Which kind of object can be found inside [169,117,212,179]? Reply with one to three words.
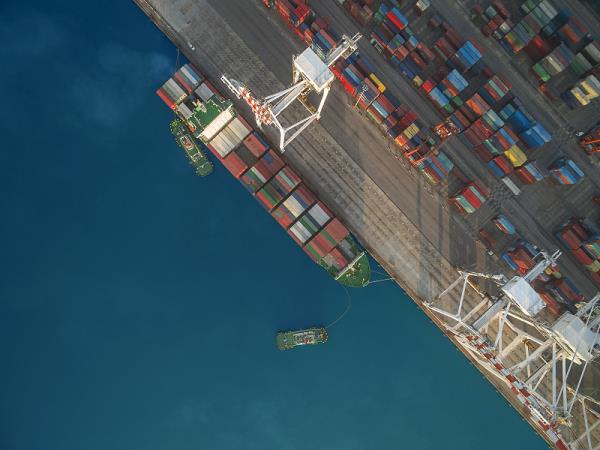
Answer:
boat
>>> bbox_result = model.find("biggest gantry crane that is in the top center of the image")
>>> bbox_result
[219,23,366,156]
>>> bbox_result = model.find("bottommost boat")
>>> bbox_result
[275,329,329,351]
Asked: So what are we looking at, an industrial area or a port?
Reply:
port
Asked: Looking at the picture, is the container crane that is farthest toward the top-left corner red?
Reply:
No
